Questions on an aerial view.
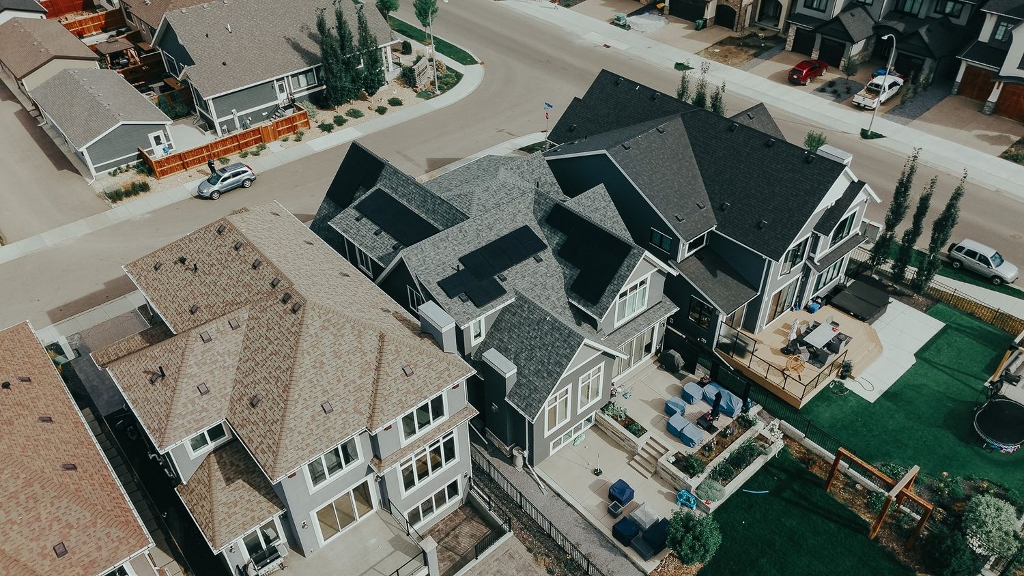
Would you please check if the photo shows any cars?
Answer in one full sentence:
Yes, the image includes a car.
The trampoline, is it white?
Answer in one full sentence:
No, the trampoline is actually black.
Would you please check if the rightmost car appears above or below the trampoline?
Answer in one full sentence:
It's above the trampoline that the rightmost car shows up.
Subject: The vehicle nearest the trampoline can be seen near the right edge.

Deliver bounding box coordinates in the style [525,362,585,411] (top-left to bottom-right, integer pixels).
[944,235,1024,286]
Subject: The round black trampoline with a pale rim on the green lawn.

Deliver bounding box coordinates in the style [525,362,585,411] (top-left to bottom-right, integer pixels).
[968,399,1024,461]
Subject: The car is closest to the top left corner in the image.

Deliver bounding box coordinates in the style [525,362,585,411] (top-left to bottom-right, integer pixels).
[194,161,259,200]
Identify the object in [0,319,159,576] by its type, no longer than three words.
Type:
house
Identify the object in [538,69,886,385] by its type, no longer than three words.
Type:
house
